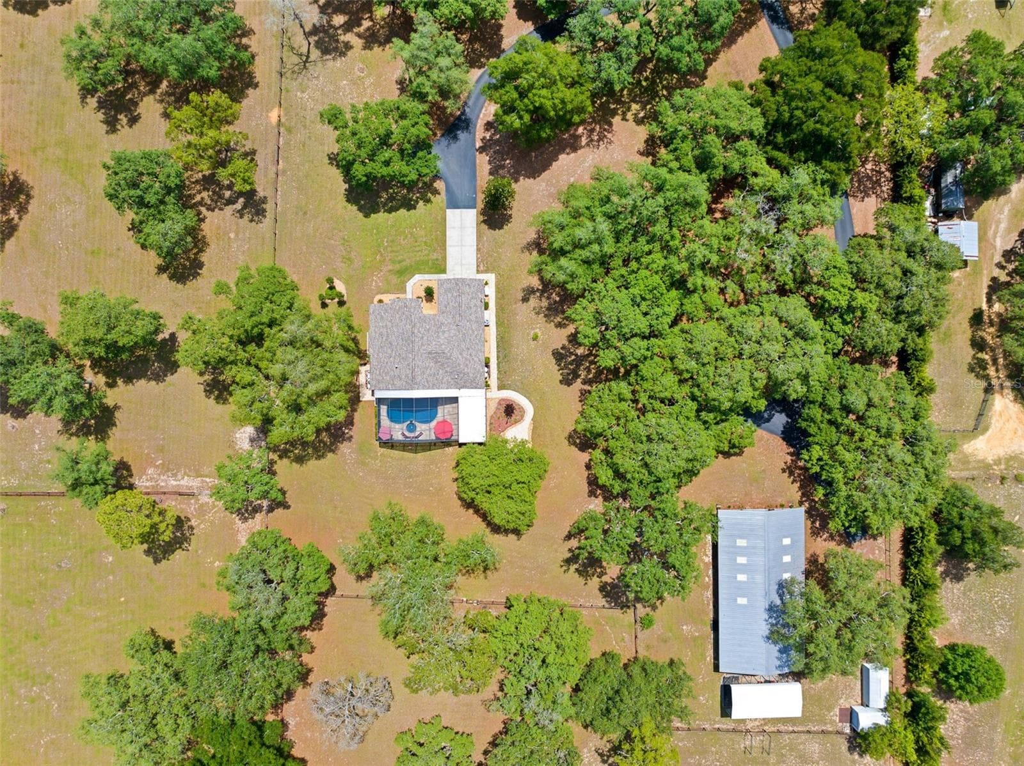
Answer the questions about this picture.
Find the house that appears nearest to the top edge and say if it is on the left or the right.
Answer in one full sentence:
The house that appears nearest to the top edge appears in the right half of the scene.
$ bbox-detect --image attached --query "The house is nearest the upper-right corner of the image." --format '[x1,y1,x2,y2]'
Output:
[930,158,966,219]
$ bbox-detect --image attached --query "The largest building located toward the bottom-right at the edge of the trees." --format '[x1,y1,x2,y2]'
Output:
[712,508,806,675]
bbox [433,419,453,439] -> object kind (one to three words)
umbrella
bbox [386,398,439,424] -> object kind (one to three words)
swimming pool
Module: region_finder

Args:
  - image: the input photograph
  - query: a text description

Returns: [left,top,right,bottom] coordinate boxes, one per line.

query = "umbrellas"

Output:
[433,419,453,439]
[378,422,392,437]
